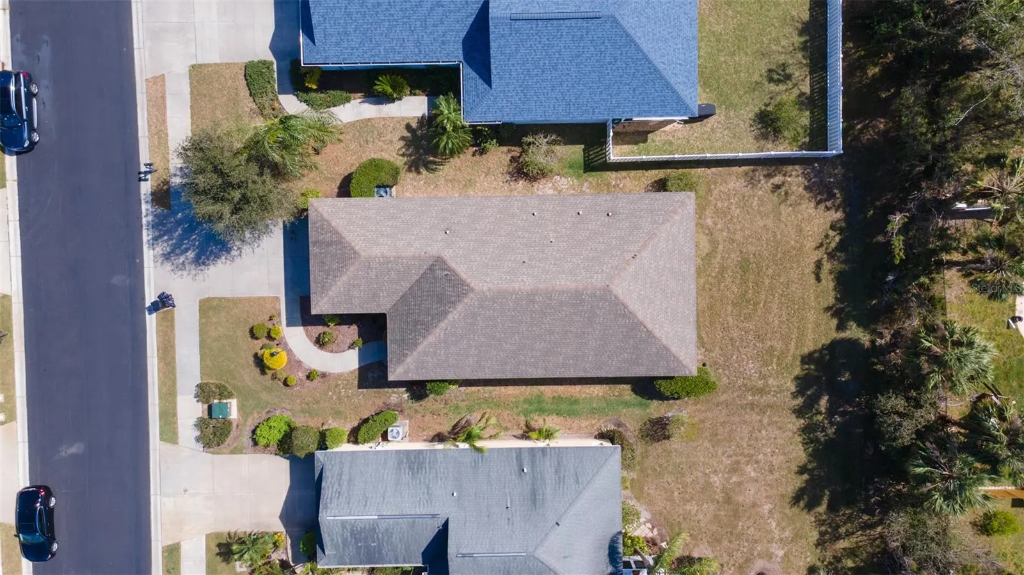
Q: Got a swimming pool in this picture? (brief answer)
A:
No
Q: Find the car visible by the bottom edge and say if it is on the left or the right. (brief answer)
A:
left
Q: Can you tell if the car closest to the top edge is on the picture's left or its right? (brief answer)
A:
left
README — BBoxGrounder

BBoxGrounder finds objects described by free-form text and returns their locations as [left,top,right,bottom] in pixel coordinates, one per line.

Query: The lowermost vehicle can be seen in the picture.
[13,484,58,562]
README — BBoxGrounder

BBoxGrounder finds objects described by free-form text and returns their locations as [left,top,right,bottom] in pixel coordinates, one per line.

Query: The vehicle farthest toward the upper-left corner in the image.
[0,67,38,151]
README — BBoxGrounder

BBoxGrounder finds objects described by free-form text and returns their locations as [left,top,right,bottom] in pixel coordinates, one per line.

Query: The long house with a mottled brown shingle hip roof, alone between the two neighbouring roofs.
[308,192,699,381]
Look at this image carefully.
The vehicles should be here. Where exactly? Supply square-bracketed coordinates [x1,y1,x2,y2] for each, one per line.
[13,484,58,562]
[0,67,38,151]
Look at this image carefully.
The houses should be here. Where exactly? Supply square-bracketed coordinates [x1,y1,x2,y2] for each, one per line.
[314,437,624,575]
[300,0,704,127]
[308,192,699,381]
